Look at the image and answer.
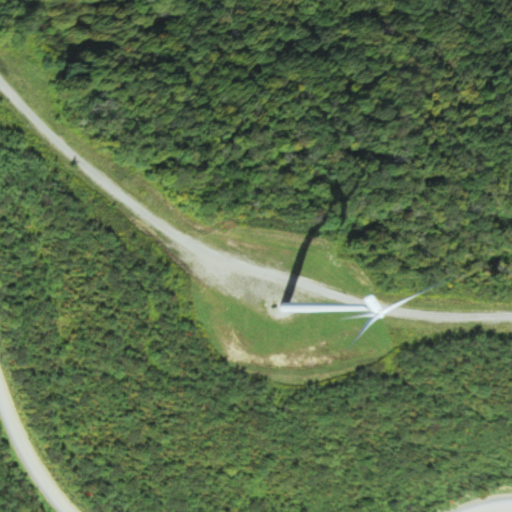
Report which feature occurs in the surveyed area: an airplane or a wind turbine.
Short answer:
wind turbine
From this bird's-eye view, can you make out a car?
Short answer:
No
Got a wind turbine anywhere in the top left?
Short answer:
No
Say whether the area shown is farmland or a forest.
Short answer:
forest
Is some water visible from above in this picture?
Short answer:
No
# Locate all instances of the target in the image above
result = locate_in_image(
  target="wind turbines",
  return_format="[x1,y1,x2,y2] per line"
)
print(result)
[276,278,450,350]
